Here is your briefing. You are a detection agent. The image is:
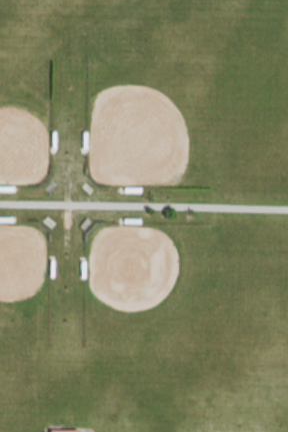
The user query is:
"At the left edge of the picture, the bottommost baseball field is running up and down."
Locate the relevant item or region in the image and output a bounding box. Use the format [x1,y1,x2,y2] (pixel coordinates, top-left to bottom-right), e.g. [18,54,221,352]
[0,222,51,345]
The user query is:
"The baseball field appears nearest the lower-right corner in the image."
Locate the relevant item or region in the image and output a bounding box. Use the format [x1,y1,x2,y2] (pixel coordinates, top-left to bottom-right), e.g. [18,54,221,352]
[86,224,208,346]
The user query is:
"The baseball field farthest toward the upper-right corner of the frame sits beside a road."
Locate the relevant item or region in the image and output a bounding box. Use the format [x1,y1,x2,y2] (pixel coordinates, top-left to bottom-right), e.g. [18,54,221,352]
[86,66,209,188]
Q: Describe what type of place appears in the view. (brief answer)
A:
sports ground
